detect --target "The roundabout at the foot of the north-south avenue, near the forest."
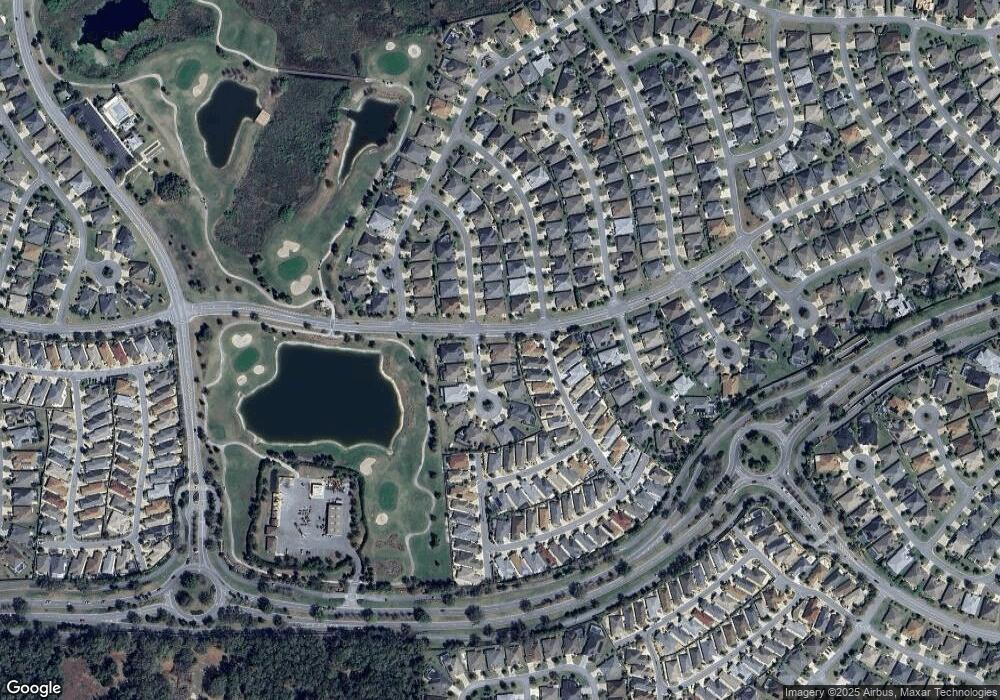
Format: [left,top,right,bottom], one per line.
[166,563,225,622]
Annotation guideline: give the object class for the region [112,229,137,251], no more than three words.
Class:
house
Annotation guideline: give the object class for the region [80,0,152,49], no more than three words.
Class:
pond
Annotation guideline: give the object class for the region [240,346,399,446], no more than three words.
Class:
pond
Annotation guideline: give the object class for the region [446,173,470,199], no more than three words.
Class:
house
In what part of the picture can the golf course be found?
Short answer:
left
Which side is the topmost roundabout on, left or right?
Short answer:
right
